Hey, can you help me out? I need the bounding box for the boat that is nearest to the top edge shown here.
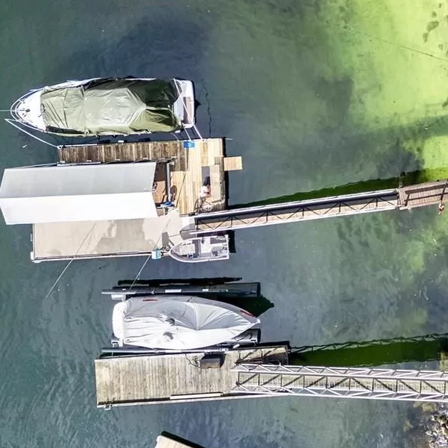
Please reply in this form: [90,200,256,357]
[0,78,200,141]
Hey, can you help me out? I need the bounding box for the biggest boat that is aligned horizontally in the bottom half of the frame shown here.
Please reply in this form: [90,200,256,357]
[102,301,253,356]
